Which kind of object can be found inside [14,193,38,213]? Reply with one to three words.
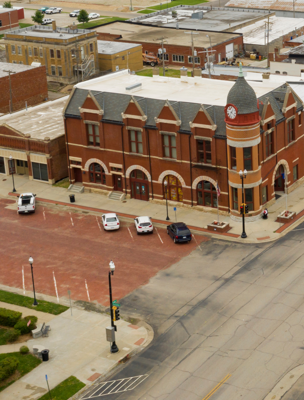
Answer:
vehicle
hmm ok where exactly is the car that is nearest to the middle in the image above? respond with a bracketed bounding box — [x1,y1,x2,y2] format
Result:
[135,216,153,236]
